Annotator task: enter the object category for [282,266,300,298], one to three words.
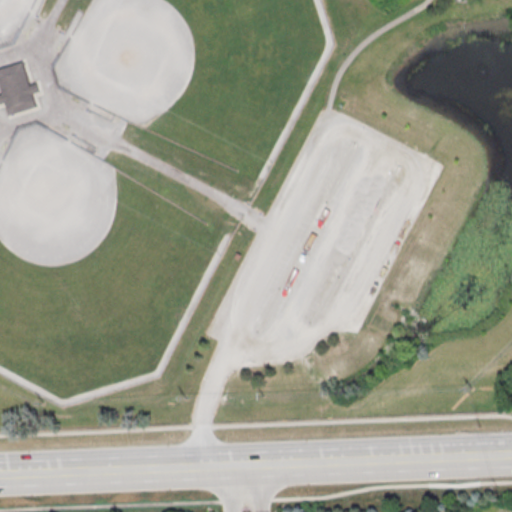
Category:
vehicle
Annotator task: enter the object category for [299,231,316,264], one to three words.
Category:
vehicle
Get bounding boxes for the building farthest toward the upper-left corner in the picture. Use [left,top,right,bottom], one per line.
[0,60,42,118]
